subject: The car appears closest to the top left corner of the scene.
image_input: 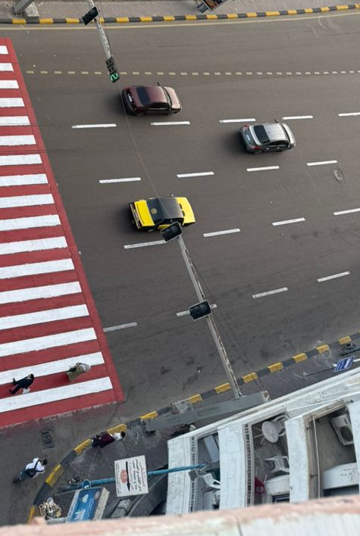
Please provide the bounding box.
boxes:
[118,77,185,112]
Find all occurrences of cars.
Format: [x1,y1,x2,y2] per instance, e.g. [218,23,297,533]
[128,188,200,230]
[118,77,185,112]
[239,118,300,153]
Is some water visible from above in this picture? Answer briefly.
No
